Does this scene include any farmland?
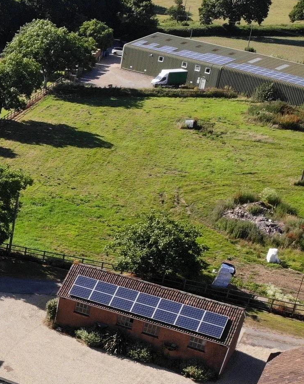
Yes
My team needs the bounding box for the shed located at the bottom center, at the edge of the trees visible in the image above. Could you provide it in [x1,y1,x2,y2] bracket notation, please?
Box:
[54,262,245,377]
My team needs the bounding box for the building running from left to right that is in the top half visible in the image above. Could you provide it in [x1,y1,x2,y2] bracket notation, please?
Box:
[120,32,304,112]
